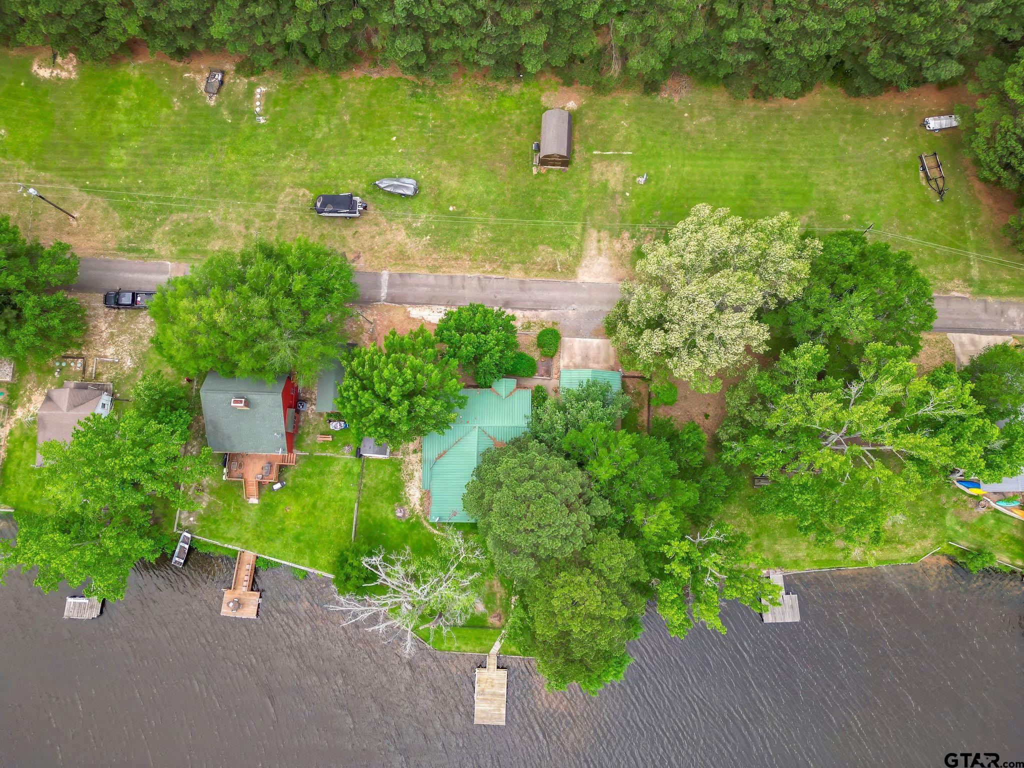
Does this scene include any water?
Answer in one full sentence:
Yes, water shows up in the scene.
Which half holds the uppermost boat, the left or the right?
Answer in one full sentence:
It is on the right.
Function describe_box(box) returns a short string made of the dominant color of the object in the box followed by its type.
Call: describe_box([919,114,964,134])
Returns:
white boat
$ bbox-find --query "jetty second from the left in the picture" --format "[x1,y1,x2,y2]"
[219,551,265,619]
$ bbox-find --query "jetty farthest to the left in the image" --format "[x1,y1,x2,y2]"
[63,598,107,619]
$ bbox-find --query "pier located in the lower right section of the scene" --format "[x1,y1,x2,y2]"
[760,569,801,623]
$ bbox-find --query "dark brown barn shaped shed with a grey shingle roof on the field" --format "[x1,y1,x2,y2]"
[539,109,573,170]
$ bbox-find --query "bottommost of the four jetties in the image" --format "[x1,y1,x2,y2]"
[472,654,507,726]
